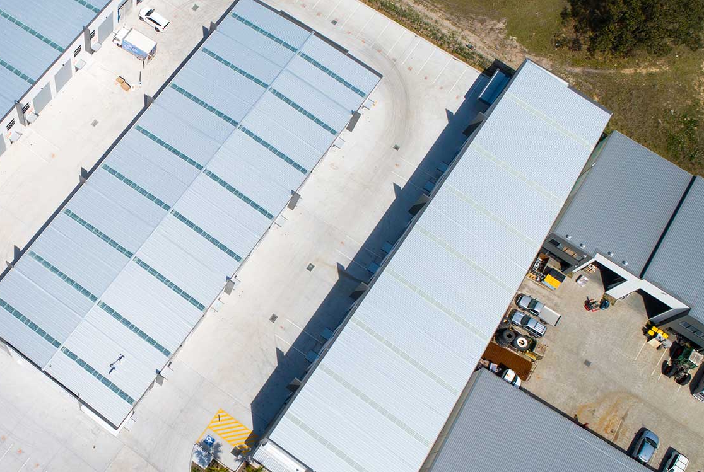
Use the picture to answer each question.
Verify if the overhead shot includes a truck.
Yes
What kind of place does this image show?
industrial area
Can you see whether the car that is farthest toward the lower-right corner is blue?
Yes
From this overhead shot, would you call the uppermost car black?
No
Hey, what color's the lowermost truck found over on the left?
white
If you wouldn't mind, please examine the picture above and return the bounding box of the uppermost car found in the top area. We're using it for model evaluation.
[137,8,170,32]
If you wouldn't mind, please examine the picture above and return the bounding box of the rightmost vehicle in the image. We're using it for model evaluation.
[655,345,704,387]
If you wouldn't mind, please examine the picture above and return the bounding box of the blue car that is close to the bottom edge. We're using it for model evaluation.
[628,429,659,464]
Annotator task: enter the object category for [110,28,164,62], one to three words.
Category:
truck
